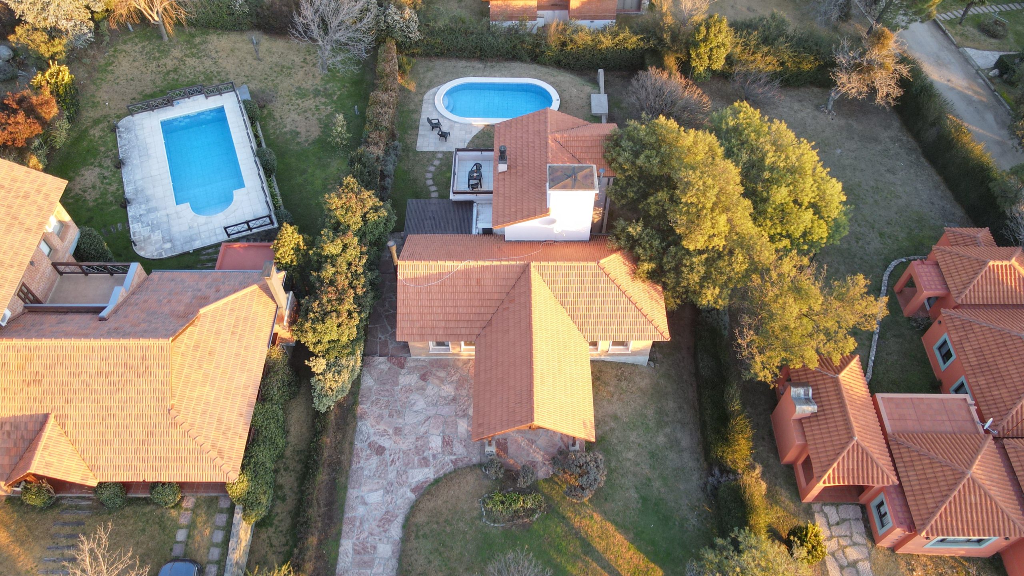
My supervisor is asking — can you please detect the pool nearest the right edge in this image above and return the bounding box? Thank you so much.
[434,78,559,124]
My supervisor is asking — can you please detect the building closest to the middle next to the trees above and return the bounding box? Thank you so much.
[387,108,671,460]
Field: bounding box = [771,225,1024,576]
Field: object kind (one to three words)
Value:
house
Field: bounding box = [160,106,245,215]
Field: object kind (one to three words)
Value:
swimming pool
